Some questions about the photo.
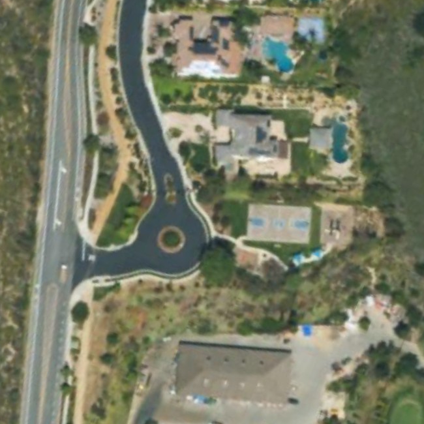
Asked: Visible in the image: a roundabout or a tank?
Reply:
roundabout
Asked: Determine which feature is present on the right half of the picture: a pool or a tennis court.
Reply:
pool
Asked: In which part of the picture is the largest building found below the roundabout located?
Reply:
bottom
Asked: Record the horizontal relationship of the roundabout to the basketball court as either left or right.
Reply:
to the left of it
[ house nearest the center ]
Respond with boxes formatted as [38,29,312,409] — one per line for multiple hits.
[216,109,288,164]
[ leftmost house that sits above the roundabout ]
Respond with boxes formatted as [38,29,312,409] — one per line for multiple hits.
[170,10,244,77]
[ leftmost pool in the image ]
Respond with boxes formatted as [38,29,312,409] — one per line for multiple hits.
[263,37,295,73]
